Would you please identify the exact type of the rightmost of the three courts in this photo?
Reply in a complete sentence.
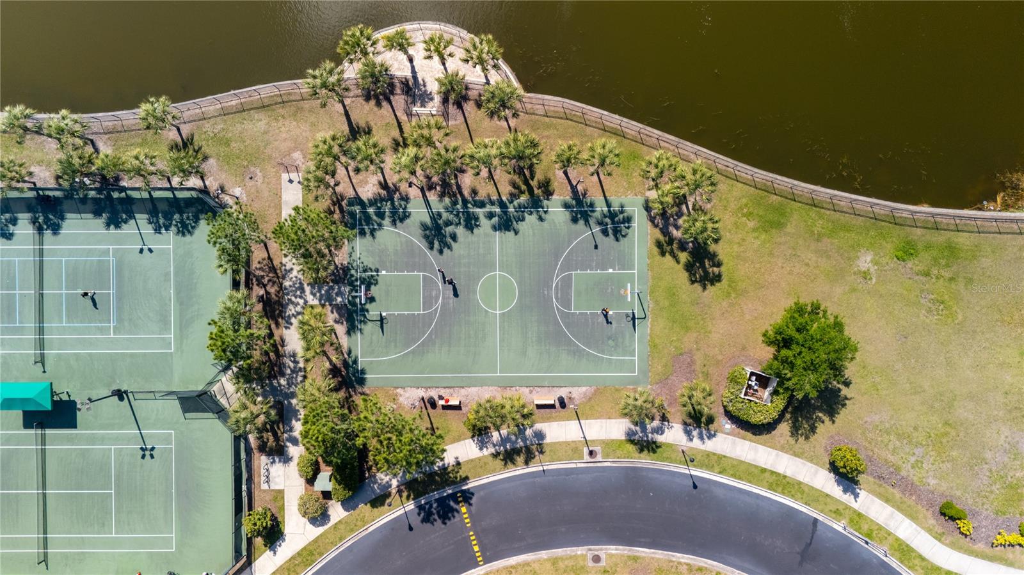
Looking closely, the rightmost of the three courts is a basketball court.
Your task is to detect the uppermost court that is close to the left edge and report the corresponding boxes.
[0,193,243,392]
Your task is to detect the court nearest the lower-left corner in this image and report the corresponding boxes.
[0,392,245,575]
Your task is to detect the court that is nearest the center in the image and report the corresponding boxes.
[346,197,649,388]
